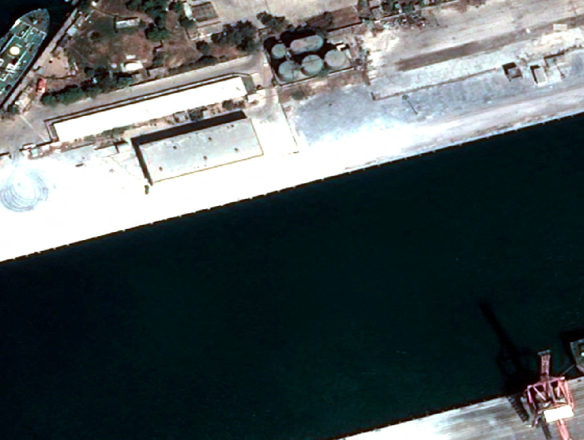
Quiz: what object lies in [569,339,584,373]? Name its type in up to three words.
ship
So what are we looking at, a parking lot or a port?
port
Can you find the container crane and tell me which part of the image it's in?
bottom right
